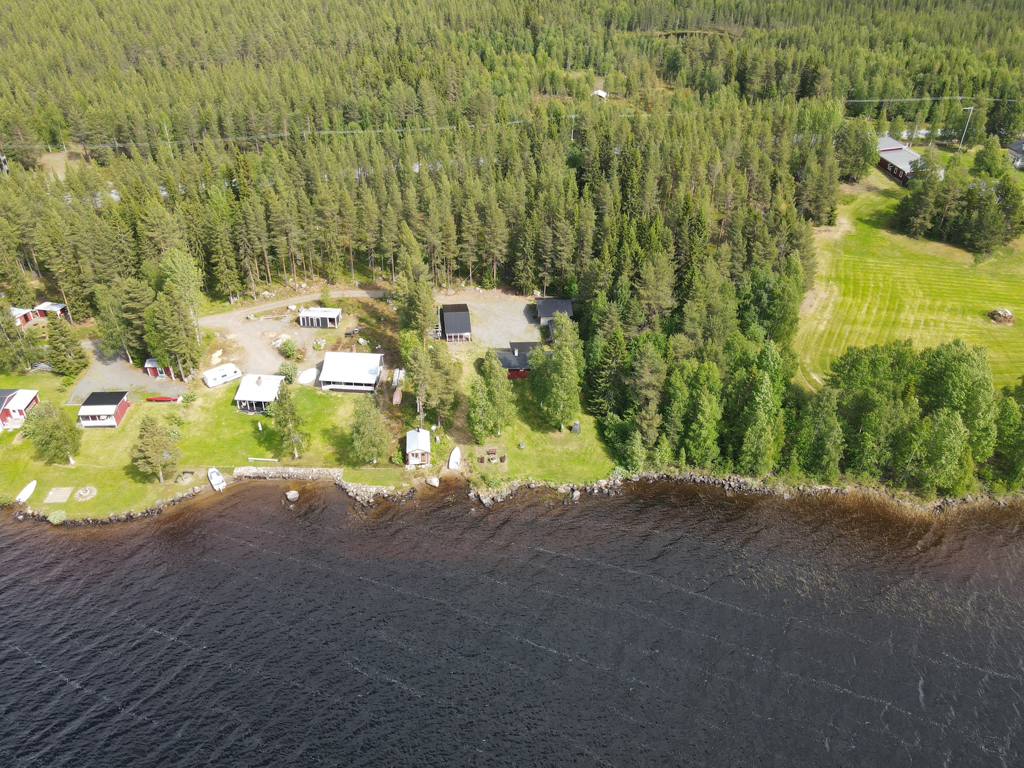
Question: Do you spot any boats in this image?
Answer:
Yes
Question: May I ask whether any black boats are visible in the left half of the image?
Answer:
No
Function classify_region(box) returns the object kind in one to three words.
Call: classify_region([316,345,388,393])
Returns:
building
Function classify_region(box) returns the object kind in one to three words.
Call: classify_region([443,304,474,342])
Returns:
building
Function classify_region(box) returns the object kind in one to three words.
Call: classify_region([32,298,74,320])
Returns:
shed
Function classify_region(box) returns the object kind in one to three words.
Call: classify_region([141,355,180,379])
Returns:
shed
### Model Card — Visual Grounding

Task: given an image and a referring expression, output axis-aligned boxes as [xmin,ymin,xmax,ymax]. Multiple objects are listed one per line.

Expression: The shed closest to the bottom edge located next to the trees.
[405,424,429,465]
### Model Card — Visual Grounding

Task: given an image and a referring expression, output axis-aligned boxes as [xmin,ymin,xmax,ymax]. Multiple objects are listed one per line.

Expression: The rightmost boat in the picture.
[449,442,463,468]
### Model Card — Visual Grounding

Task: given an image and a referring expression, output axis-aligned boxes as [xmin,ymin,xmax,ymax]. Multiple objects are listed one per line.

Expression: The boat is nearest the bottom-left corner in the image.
[12,476,35,510]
